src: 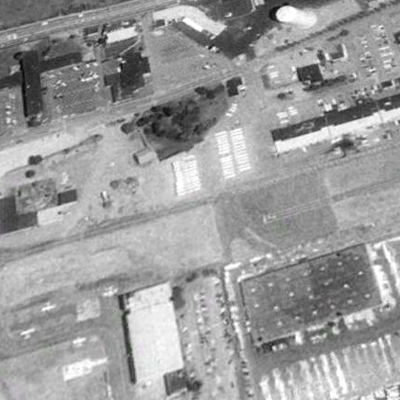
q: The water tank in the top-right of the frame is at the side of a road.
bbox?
[282,7,312,33]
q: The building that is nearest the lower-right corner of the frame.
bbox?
[240,244,382,346]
